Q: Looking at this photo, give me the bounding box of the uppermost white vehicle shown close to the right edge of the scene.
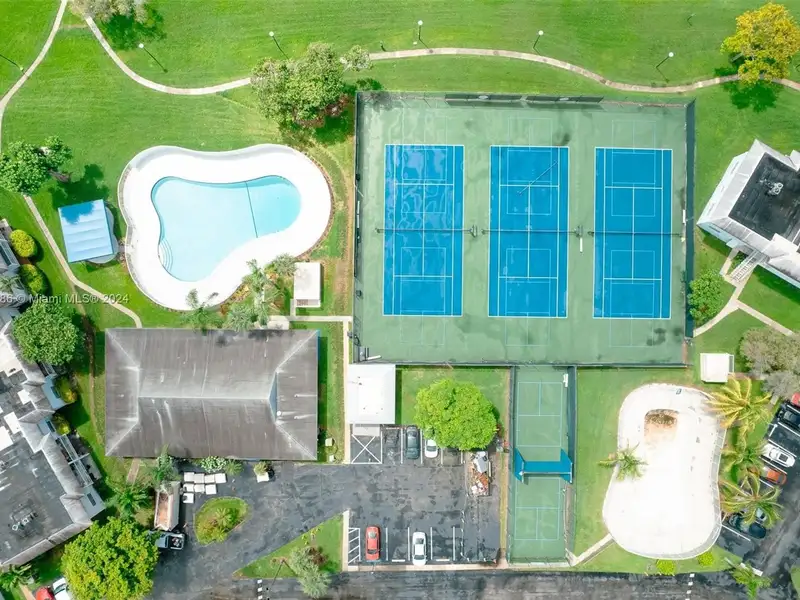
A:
[760,442,795,470]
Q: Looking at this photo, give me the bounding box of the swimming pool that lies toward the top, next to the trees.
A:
[122,147,332,309]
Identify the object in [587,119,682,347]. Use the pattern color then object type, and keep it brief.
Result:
blue tennis court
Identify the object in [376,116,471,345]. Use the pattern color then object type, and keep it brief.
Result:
blue tennis court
